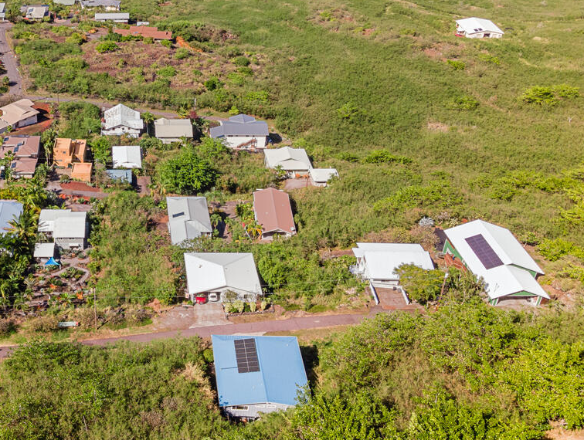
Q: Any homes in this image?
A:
Yes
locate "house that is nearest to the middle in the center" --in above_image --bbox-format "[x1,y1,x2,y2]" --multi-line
[253,187,298,241]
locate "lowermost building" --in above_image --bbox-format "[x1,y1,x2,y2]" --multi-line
[210,331,314,415]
